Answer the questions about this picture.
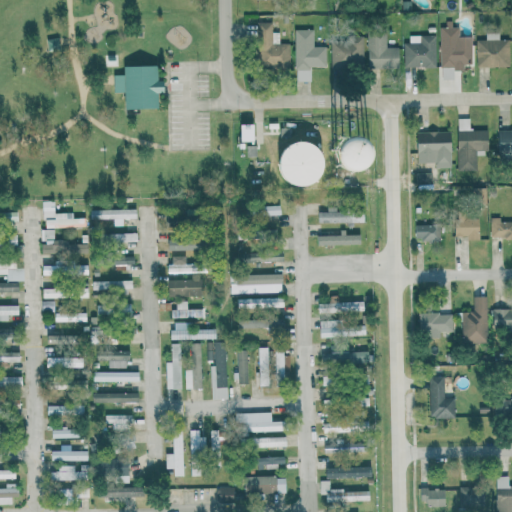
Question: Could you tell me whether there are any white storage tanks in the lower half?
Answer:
No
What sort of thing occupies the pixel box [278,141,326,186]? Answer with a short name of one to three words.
storage tank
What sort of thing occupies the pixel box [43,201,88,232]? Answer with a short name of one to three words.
house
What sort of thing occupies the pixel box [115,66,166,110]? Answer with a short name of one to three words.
building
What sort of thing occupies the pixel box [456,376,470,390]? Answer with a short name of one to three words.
swimming pool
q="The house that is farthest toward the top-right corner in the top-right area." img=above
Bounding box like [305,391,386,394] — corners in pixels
[478,33,511,67]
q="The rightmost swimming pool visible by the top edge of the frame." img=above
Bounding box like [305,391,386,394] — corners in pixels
[456,12,474,36]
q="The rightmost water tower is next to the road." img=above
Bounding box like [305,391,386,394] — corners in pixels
[330,132,376,170]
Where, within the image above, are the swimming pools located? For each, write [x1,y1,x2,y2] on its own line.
[456,12,474,36]
[414,0,432,10]
[456,376,470,390]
